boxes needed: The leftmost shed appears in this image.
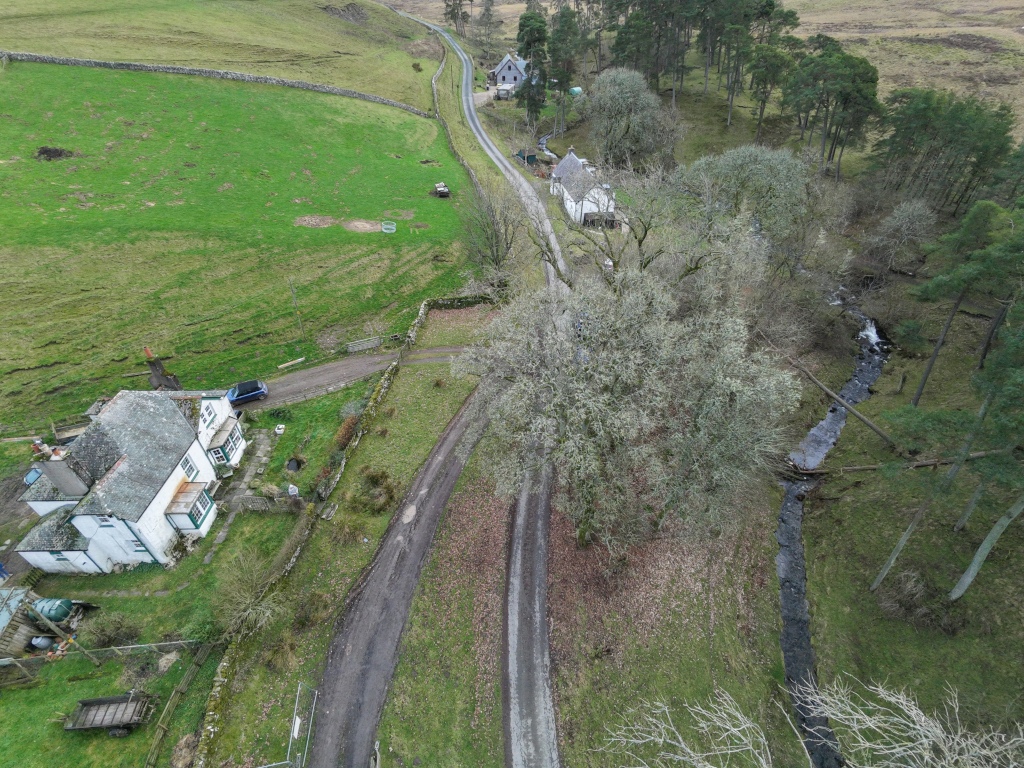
[0,591,41,671]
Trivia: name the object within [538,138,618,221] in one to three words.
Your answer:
house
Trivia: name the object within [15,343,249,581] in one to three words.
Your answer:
house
